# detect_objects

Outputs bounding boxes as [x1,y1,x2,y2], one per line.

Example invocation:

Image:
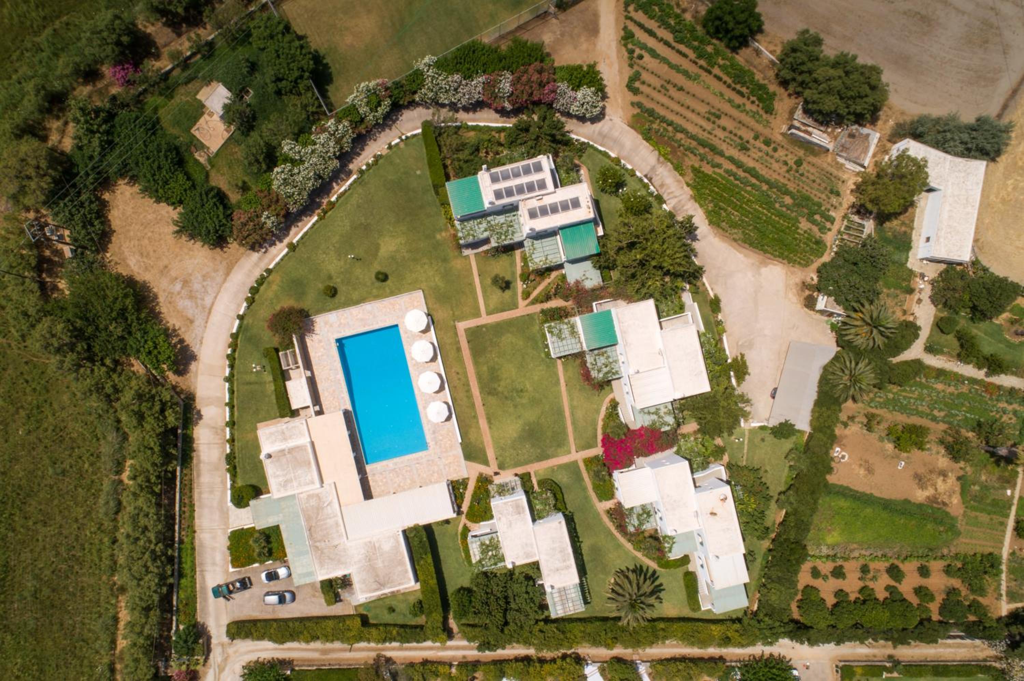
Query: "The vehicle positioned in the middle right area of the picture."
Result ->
[765,387,778,399]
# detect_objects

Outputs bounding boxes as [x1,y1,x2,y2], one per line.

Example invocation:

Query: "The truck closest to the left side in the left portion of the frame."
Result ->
[211,575,254,602]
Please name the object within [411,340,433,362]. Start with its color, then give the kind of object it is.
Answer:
white umbrella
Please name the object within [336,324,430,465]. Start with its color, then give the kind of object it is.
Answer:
blue swimming pool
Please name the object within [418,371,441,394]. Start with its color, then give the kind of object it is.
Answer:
white umbrella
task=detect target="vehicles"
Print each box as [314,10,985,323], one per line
[261,565,292,582]
[765,387,778,399]
[264,589,297,605]
[211,575,254,602]
[786,665,801,681]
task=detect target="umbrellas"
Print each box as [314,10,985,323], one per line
[411,340,433,362]
[405,309,428,332]
[427,401,449,423]
[418,371,441,394]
